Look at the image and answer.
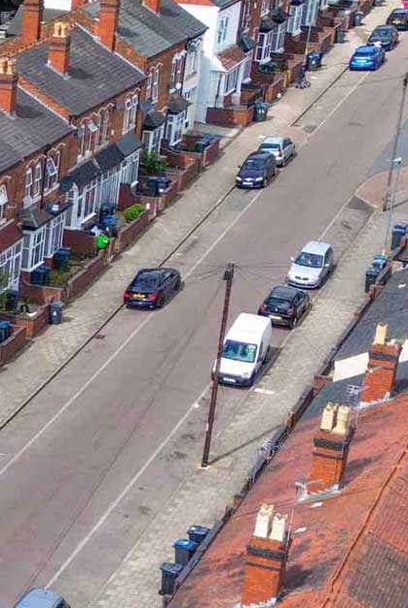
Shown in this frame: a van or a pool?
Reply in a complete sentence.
Visible in the photo is a van.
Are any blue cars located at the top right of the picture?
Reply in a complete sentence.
Yes, a blue car is visible at the top right of the picture.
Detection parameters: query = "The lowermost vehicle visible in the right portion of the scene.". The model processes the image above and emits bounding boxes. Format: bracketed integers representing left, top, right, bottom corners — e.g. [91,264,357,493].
[217,306,279,377]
